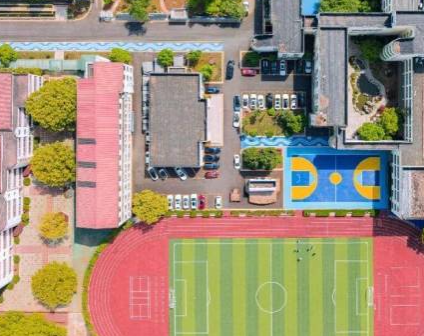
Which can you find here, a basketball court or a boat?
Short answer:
basketball court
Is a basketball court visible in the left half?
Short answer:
No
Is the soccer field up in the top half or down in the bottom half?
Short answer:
bottom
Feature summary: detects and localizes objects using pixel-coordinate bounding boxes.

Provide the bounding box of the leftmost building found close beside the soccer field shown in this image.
[77,64,136,228]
